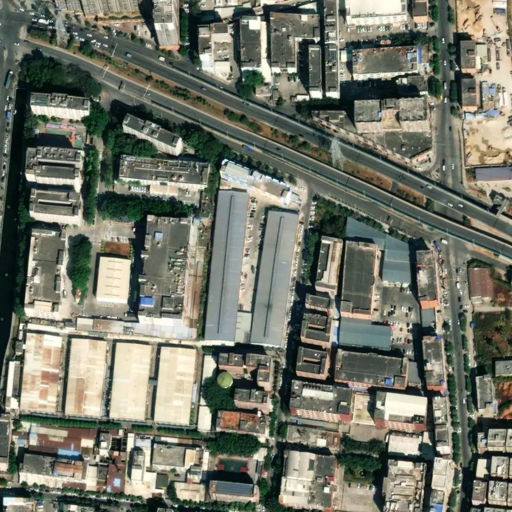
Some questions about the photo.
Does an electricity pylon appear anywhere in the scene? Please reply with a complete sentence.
Yes, the frame does contain an electricity pylon.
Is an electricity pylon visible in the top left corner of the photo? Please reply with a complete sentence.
Yes, an electricity pylon appears in the top left corner of the photo.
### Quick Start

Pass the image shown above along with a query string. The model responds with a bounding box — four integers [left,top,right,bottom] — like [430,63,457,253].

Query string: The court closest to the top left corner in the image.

[44,122,84,150]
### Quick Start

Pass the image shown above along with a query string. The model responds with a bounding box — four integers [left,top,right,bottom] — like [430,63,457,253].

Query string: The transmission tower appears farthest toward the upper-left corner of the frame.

[51,19,68,50]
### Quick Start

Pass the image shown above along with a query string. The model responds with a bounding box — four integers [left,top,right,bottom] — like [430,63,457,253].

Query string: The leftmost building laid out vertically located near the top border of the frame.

[152,0,180,51]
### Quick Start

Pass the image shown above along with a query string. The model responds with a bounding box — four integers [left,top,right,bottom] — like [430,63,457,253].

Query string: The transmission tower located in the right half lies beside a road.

[327,140,344,172]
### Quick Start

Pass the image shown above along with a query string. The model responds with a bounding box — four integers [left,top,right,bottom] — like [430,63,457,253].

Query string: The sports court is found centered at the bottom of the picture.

[213,456,252,484]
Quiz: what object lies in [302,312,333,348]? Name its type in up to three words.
house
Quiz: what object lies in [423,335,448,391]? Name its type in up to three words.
building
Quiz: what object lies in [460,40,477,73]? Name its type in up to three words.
building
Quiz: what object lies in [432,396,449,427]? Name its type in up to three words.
house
